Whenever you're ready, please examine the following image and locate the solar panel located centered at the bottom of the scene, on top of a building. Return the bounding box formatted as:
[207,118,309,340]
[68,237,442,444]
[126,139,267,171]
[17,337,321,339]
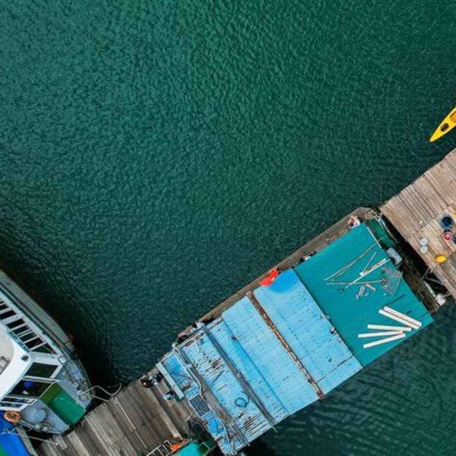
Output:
[191,393,209,417]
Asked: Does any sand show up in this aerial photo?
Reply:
No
